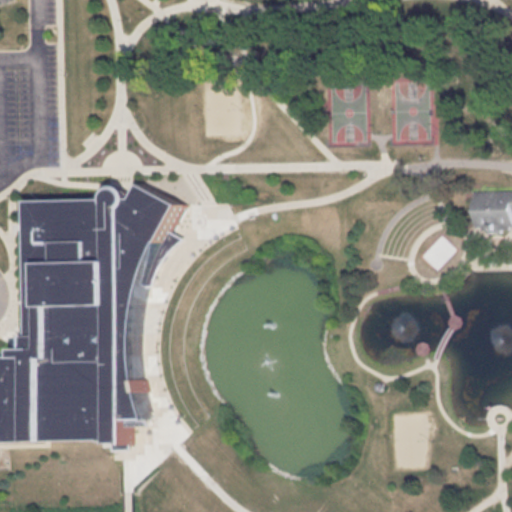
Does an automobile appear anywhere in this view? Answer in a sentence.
No, there is no automobile in the image.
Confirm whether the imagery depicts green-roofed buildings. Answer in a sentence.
No, the frame has no green-roofed building in it.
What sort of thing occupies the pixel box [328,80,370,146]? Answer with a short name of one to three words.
basketball court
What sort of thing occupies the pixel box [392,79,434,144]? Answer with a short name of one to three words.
basketball court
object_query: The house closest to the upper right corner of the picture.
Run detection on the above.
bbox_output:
[470,191,512,234]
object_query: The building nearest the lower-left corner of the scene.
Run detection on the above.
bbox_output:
[0,186,188,450]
